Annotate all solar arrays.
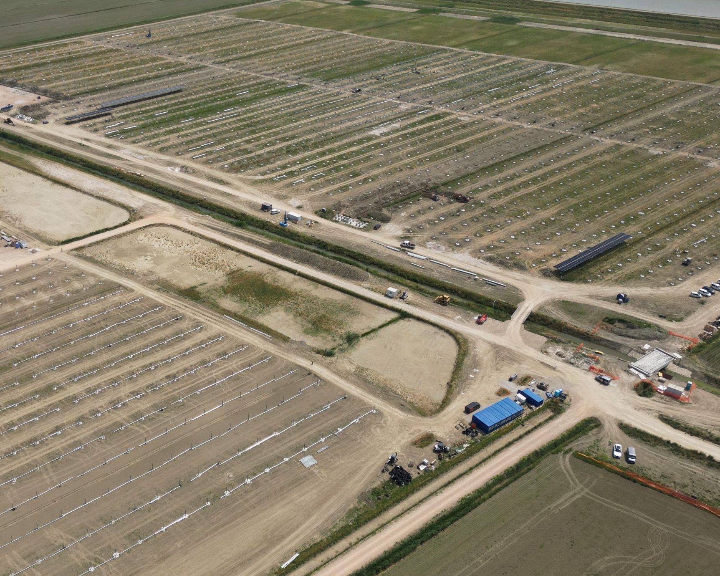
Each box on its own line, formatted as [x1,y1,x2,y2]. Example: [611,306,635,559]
[554,232,632,272]
[103,87,184,106]
[66,107,115,121]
